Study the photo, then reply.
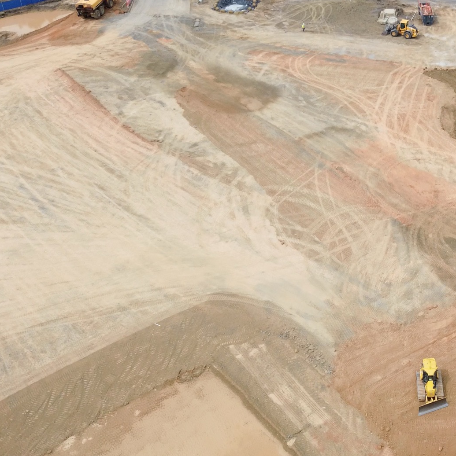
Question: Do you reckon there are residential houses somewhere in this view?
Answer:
No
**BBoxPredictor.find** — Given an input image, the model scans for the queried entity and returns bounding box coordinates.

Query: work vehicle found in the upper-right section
[386,19,419,38]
